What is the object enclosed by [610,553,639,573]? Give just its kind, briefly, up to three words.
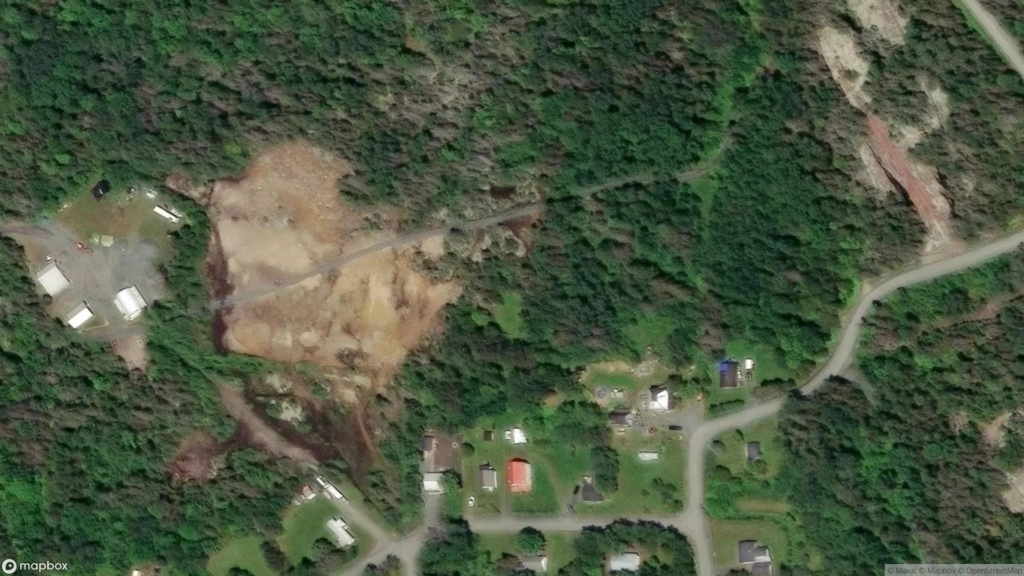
house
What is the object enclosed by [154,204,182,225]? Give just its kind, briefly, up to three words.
camper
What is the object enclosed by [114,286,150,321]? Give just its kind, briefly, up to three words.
barn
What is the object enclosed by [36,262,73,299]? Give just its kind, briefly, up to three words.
building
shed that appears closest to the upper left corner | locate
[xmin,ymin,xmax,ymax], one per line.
[91,180,113,203]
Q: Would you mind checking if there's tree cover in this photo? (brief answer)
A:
Yes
